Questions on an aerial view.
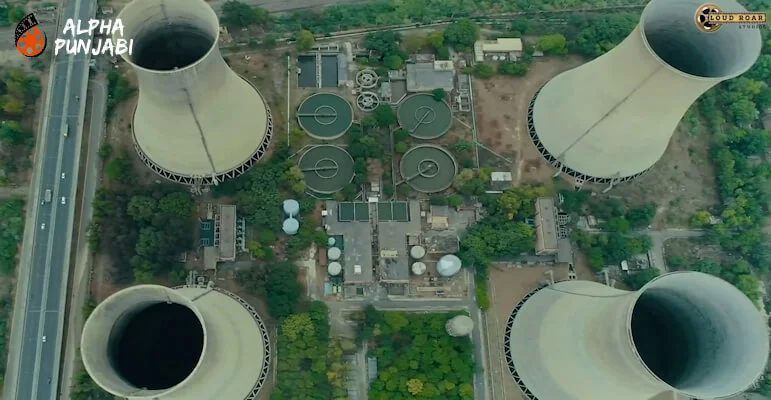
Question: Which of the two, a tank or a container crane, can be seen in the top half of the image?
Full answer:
It is a tank that can be seen in the top half of the image.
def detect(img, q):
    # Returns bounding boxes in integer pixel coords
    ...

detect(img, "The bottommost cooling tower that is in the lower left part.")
[78,272,272,400]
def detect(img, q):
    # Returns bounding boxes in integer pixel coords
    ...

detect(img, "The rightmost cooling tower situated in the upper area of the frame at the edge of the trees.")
[527,0,763,193]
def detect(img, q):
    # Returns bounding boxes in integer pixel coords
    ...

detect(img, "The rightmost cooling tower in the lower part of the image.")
[503,267,769,400]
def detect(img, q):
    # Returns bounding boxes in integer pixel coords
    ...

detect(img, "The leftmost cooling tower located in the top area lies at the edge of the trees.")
[111,0,274,195]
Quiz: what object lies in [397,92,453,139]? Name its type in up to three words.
storage tank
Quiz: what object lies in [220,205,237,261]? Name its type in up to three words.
building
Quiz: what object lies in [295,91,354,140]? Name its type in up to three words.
storage tank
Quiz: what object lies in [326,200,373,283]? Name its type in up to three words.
house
